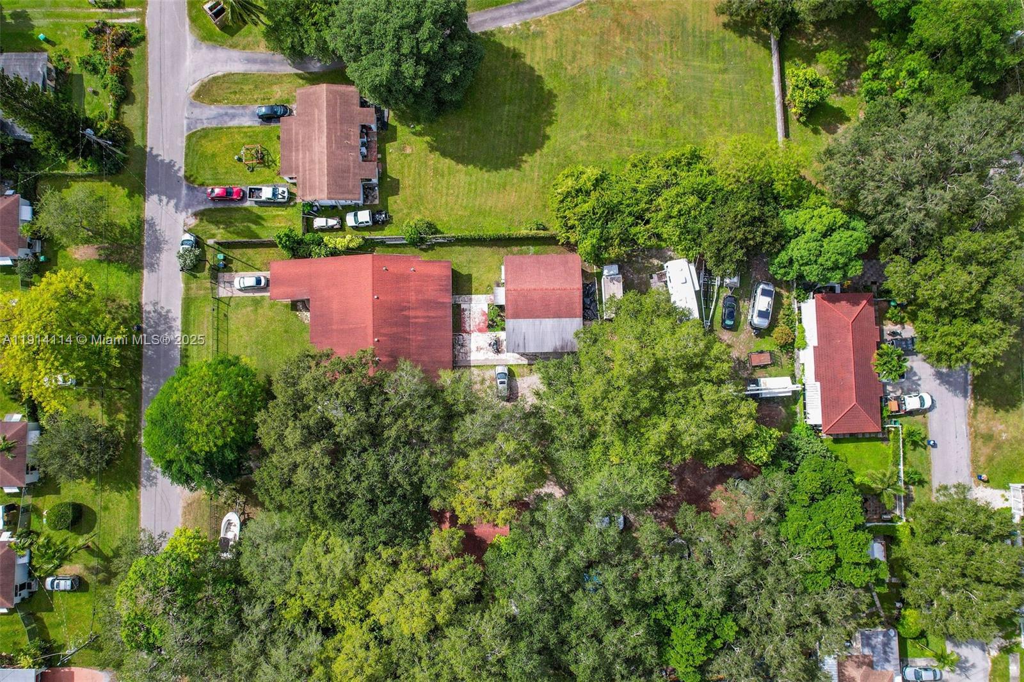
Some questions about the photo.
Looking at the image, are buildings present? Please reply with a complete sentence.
Yes, the picture does show a building.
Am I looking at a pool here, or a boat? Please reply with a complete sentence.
I can see a boat in this picture.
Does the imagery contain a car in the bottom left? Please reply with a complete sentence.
Yes, looking in the bottom left, one can make out a car.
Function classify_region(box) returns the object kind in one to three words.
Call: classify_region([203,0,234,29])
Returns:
shed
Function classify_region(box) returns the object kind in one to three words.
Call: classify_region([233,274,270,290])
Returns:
car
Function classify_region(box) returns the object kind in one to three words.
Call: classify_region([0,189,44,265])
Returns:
house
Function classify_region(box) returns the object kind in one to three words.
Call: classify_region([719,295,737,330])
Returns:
car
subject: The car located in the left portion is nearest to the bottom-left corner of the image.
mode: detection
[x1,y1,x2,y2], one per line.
[44,574,83,593]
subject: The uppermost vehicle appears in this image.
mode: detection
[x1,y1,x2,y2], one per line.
[256,103,291,120]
